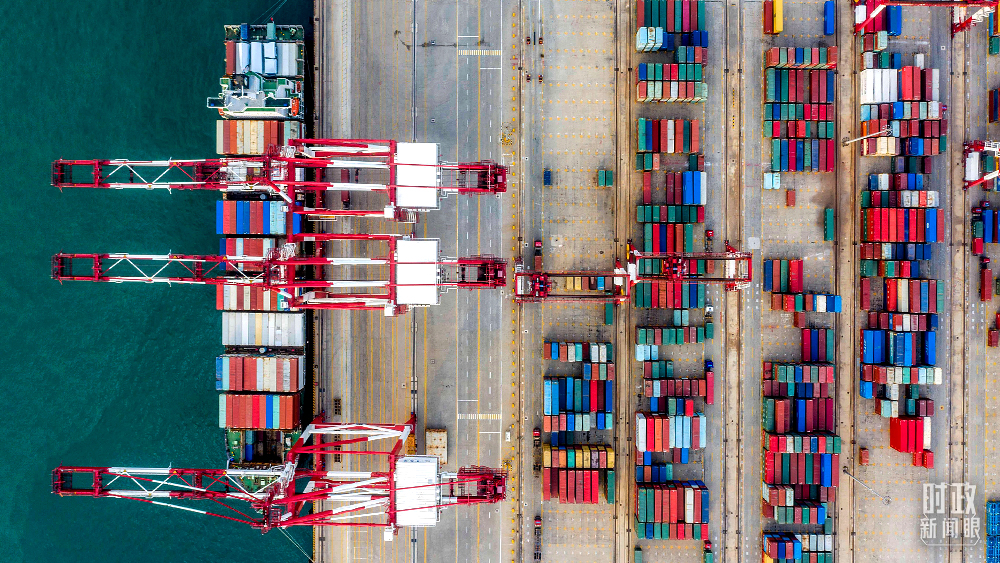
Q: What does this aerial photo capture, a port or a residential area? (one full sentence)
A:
The picture captures a port.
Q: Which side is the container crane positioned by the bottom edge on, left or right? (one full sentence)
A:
The container crane positioned by the bottom edge is on the left side of the image.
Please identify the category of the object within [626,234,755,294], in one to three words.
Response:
container crane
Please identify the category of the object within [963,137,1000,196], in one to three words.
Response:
container crane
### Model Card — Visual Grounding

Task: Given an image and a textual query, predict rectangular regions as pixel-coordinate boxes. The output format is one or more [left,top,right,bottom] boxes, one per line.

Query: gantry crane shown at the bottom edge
[48,407,508,543]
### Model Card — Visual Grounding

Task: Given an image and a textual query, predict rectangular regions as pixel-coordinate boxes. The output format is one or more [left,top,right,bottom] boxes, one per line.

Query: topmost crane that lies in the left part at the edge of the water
[49,136,509,227]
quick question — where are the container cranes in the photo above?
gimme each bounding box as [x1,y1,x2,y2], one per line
[49,136,509,227]
[963,137,1000,196]
[49,222,508,318]
[853,0,1000,41]
[626,234,755,294]
[515,252,636,311]
[48,407,508,543]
